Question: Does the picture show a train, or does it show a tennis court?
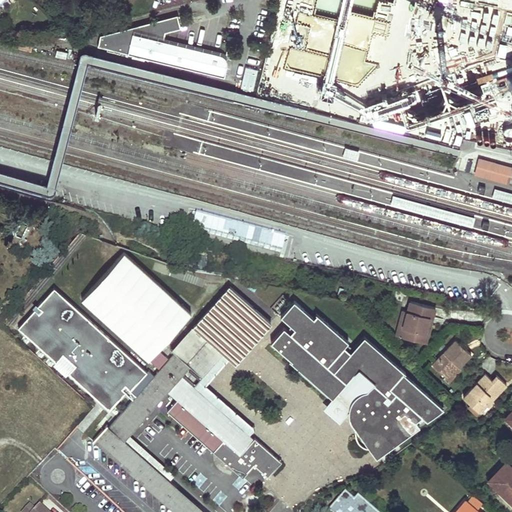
train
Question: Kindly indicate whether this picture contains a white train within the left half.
No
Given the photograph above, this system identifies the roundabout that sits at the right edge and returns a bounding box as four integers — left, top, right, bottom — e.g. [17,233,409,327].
[484,307,512,361]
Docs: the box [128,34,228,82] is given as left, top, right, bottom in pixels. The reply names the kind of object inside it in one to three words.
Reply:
building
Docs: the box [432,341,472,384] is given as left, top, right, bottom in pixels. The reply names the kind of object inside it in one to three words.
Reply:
house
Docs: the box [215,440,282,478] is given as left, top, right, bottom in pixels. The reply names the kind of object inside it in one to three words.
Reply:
building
